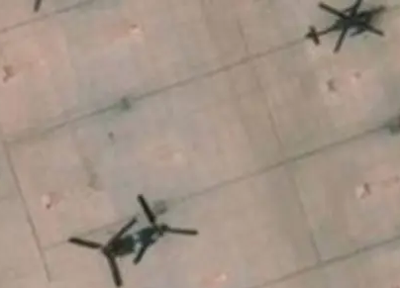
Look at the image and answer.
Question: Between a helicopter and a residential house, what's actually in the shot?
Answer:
helicopter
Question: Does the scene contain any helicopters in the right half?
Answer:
Yes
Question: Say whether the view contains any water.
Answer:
No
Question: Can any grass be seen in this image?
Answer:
No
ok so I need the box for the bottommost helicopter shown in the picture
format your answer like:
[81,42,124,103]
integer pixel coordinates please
[65,193,203,288]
